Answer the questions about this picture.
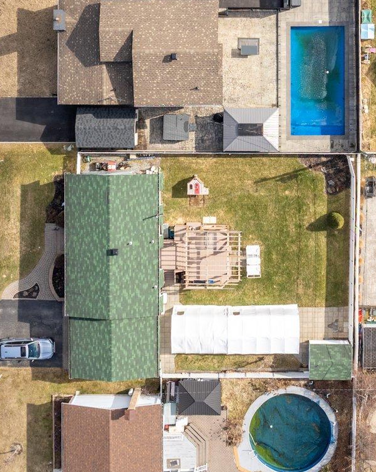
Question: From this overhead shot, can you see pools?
Yes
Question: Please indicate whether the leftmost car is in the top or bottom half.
bottom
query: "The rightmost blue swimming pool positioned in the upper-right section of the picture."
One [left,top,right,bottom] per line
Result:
[284,19,351,141]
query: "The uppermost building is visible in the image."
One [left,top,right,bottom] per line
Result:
[53,0,222,107]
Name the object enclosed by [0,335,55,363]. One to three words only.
car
